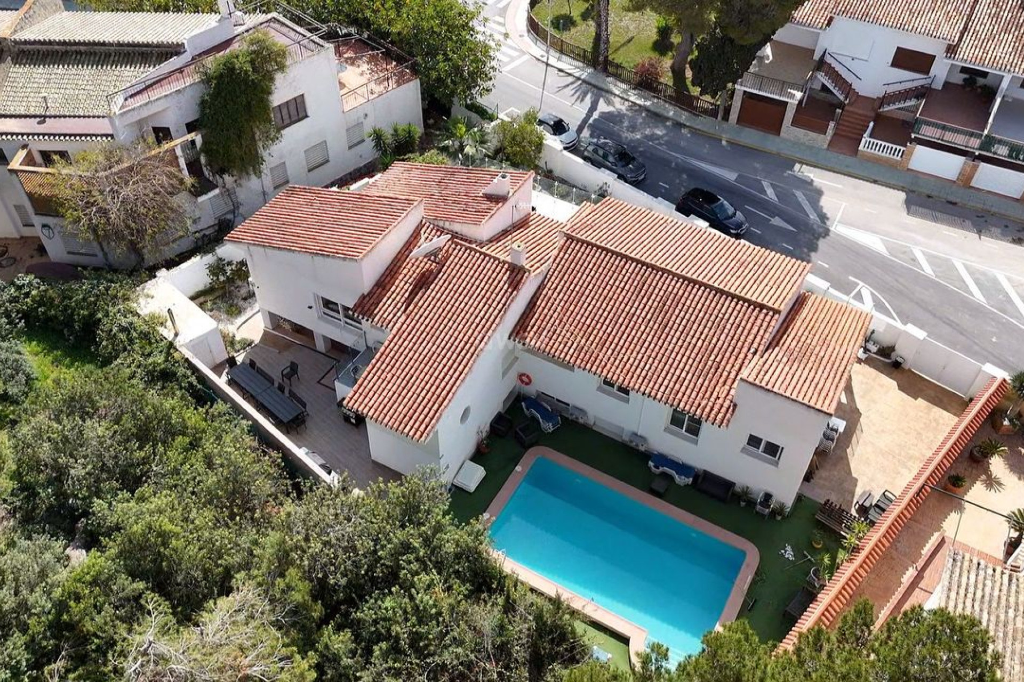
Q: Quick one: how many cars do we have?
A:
three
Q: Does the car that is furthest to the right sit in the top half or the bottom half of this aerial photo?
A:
top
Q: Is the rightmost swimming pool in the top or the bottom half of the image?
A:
bottom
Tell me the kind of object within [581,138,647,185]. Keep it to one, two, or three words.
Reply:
car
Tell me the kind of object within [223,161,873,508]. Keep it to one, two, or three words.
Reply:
house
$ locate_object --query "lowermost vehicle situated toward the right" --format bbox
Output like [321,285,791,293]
[675,185,749,236]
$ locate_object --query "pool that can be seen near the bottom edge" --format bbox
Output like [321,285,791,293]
[474,447,759,682]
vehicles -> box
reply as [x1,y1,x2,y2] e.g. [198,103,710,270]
[528,113,586,154]
[581,138,647,185]
[675,185,749,236]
